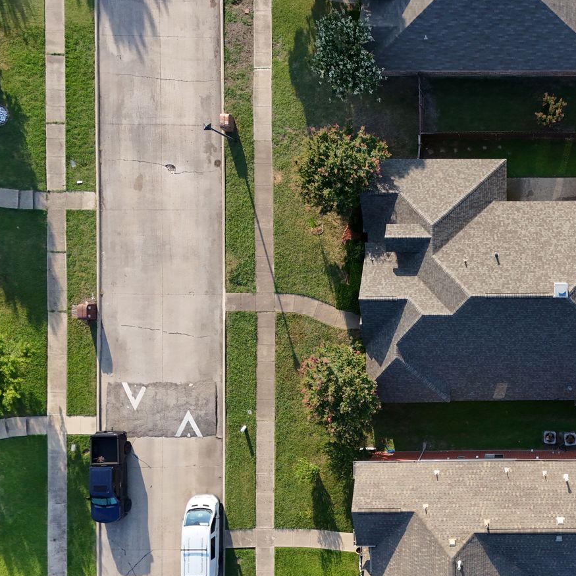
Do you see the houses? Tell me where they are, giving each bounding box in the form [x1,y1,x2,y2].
[360,158,576,403]
[352,443,576,576]
[362,0,576,77]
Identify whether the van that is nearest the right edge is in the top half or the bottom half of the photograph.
bottom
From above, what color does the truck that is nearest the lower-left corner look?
black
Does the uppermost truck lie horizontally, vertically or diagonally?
vertically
